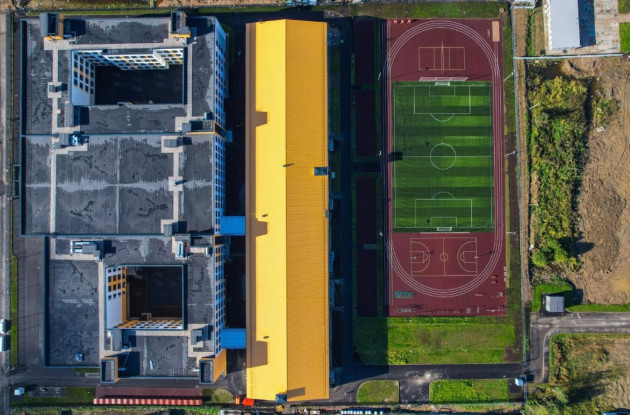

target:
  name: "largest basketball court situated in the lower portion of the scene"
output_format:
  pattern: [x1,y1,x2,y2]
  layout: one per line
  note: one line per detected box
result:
[408,235,479,278]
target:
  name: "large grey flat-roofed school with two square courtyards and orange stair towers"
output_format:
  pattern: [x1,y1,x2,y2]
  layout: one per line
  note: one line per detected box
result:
[13,11,233,384]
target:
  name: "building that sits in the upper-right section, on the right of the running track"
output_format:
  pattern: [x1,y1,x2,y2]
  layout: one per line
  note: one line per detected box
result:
[545,0,581,54]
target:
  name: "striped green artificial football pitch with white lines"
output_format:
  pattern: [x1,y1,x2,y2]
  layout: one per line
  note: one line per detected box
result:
[392,81,494,232]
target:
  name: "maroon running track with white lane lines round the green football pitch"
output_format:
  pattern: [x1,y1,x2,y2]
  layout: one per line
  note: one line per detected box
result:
[380,18,507,317]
